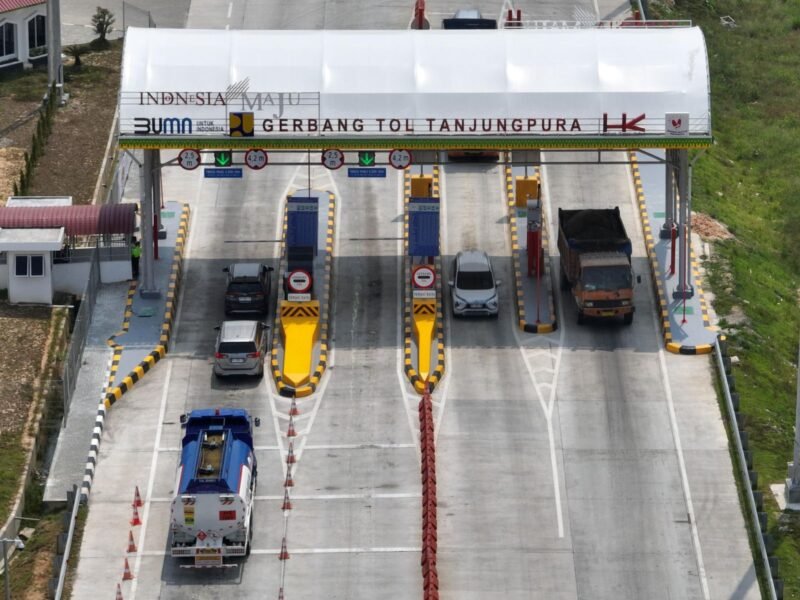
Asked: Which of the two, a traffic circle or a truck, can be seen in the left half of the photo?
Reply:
truck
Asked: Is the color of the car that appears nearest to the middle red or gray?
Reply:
gray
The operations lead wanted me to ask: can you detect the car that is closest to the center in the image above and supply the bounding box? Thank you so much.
[448,248,502,314]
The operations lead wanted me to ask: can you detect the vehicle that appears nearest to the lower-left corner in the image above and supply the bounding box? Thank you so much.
[168,404,256,567]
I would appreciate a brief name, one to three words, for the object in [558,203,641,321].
truck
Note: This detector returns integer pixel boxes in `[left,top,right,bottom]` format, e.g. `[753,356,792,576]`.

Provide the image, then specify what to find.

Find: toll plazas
[116,2,715,294]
